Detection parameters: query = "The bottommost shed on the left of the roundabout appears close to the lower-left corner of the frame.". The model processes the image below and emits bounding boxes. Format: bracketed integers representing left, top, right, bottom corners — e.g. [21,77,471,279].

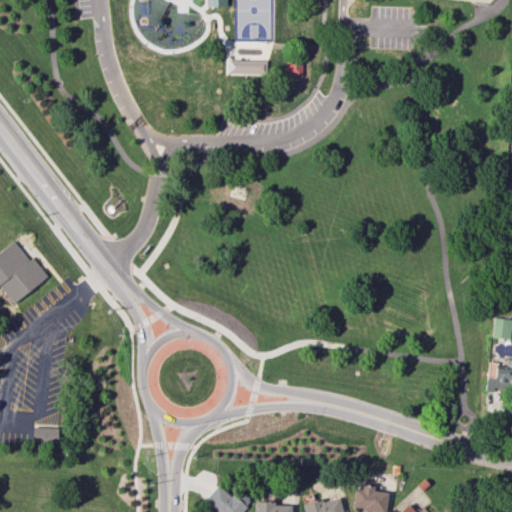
[34,428,60,442]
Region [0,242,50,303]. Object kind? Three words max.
building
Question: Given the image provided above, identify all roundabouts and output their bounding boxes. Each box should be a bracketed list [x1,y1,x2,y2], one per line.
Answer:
[136,302,308,463]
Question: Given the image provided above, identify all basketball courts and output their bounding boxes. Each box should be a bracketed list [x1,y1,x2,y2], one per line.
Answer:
[235,0,274,41]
